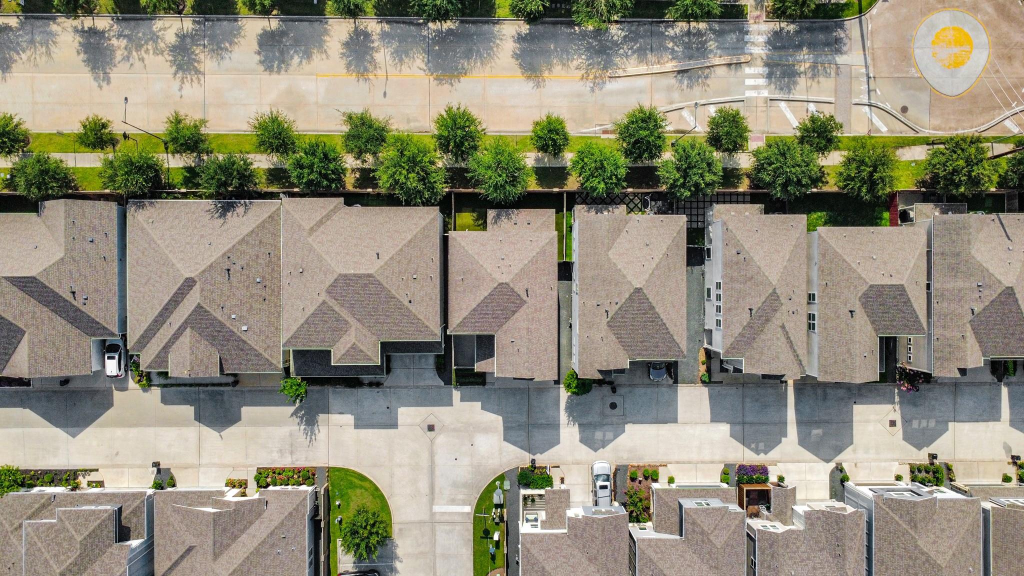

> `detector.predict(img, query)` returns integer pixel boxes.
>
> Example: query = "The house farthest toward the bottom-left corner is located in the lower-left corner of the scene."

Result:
[0,487,154,576]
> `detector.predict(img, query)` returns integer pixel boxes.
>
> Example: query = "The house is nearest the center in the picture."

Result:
[448,209,558,380]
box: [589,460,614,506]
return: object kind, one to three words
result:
car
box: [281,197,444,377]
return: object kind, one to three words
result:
house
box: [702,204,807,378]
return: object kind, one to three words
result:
house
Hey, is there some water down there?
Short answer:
No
